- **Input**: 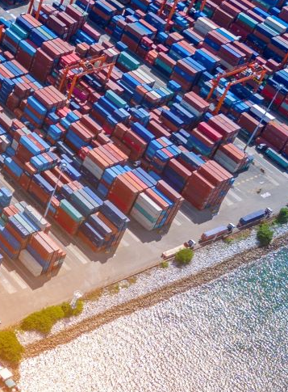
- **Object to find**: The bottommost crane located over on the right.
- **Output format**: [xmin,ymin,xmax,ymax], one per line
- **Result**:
[198,61,266,115]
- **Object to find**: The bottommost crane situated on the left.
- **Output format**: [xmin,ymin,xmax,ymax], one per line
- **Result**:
[56,52,116,101]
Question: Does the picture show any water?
Yes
